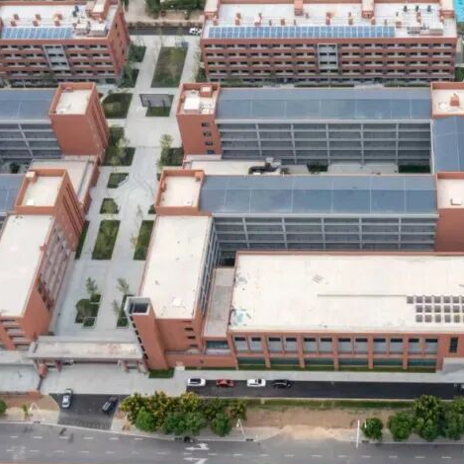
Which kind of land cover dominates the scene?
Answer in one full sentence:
Most of the picture is covered by buildings.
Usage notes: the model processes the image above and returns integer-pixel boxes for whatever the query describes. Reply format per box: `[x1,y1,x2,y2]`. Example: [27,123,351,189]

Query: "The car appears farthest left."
[58,388,73,406]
